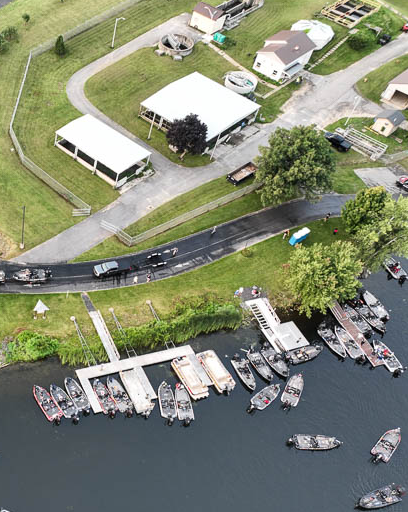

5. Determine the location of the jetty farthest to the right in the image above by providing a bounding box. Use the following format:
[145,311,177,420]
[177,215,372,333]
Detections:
[330,301,385,368]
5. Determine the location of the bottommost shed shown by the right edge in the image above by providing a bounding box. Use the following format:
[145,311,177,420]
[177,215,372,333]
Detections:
[372,109,408,137]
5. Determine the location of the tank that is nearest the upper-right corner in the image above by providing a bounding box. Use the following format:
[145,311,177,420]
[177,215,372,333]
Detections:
[294,21,340,53]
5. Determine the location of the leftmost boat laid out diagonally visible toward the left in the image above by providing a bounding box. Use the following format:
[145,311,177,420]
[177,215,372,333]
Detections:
[33,385,61,426]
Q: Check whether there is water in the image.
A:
Yes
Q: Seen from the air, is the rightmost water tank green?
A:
No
